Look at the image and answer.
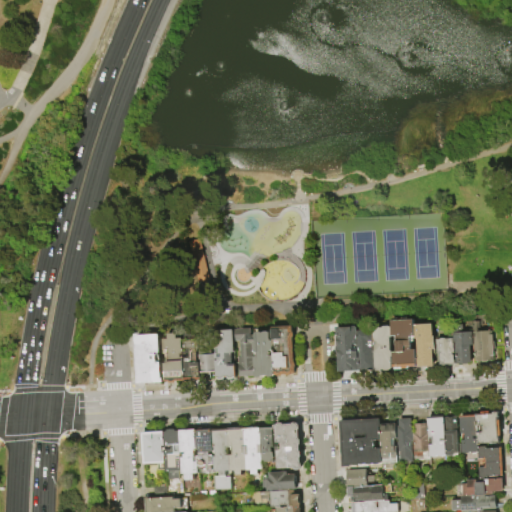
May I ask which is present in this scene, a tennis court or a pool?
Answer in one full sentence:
I can see a tennis court in this picture.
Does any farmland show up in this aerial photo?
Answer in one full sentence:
No, there is no farmland in the image.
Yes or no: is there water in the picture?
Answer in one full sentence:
Yes, there's water in this view.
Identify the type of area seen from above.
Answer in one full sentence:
The picture captures a residential area.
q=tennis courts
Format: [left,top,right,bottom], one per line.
[414,228,440,278]
[322,233,348,284]
[383,229,409,280]
[353,231,379,282]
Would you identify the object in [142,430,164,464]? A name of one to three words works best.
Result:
building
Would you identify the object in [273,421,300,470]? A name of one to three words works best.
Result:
building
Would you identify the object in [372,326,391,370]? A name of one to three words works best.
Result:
house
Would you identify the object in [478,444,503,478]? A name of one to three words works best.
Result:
house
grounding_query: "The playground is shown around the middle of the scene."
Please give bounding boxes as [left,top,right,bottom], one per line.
[212,204,312,304]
